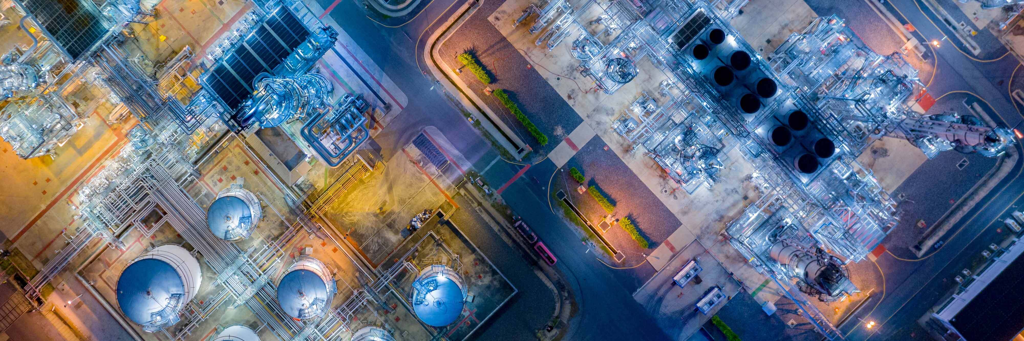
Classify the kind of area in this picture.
industrial area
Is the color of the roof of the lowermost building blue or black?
black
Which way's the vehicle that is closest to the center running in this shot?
at an angle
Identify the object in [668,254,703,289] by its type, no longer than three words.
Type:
trailer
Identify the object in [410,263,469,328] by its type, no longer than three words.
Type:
storage tank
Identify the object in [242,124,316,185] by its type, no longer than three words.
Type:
shed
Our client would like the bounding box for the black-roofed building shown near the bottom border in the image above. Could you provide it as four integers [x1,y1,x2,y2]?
[935,232,1024,341]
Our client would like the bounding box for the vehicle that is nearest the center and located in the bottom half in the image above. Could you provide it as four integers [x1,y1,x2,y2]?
[515,221,538,245]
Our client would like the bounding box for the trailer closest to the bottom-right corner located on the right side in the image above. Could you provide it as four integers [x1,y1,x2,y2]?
[691,281,728,318]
